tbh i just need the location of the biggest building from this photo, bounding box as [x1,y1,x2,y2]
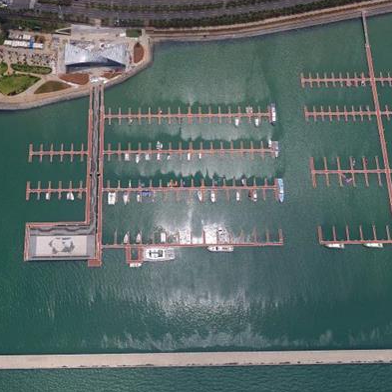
[65,38,126,74]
